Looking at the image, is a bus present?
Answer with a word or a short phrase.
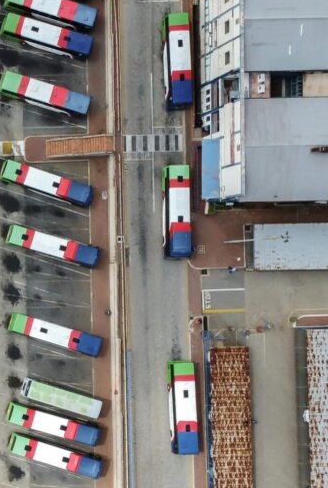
Yes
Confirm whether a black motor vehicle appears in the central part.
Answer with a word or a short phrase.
No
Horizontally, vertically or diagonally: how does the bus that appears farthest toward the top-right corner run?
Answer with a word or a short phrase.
vertically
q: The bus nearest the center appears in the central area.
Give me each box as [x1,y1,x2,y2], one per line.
[158,165,191,261]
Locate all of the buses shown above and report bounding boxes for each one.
[158,165,191,261]
[1,225,102,272]
[0,0,97,35]
[163,360,197,458]
[4,312,103,359]
[4,431,104,481]
[0,160,96,209]
[158,13,191,112]
[2,401,102,448]
[0,13,95,62]
[15,373,101,419]
[0,73,93,119]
